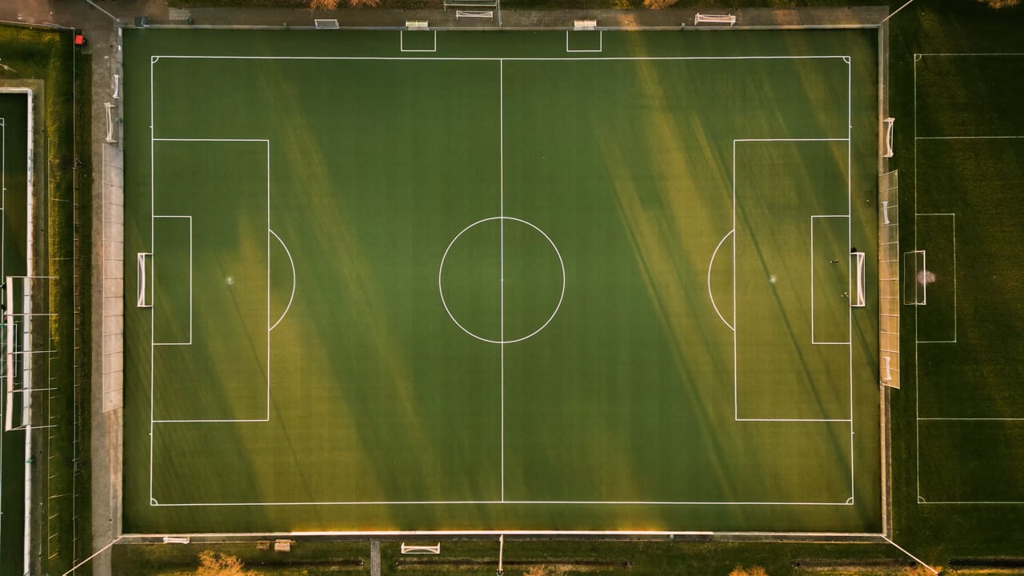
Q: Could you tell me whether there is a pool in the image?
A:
No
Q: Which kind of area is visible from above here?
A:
sports ground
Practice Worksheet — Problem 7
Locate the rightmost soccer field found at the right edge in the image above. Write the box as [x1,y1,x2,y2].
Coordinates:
[890,0,1024,553]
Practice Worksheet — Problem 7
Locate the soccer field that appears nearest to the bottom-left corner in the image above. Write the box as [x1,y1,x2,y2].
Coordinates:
[0,92,28,576]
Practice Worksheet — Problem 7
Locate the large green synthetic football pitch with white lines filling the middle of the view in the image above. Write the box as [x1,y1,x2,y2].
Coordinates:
[122,30,882,532]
